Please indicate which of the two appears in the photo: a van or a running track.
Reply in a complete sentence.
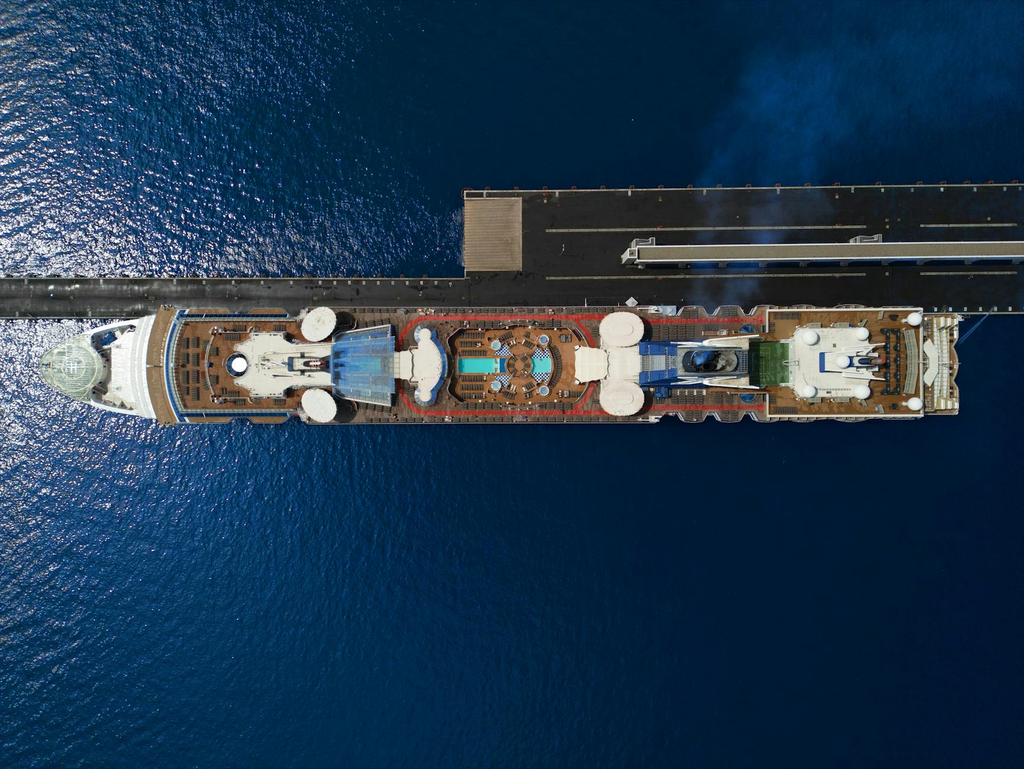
There is a running track in the scene.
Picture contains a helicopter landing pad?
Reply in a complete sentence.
Yes, there's a helicopter landing pad here.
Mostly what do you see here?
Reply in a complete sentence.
What you mostly see from above here is water.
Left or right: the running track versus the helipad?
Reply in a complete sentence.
Relative to the helipad, the running track lies to the right.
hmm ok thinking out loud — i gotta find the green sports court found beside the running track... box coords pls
[741,339,799,388]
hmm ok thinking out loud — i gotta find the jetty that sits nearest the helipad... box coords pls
[0,184,1024,319]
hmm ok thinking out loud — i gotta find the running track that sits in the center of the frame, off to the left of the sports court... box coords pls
[396,315,764,415]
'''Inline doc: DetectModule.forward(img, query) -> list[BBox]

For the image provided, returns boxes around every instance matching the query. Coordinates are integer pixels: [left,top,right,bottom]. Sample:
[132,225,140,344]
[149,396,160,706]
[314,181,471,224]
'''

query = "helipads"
[38,334,103,401]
